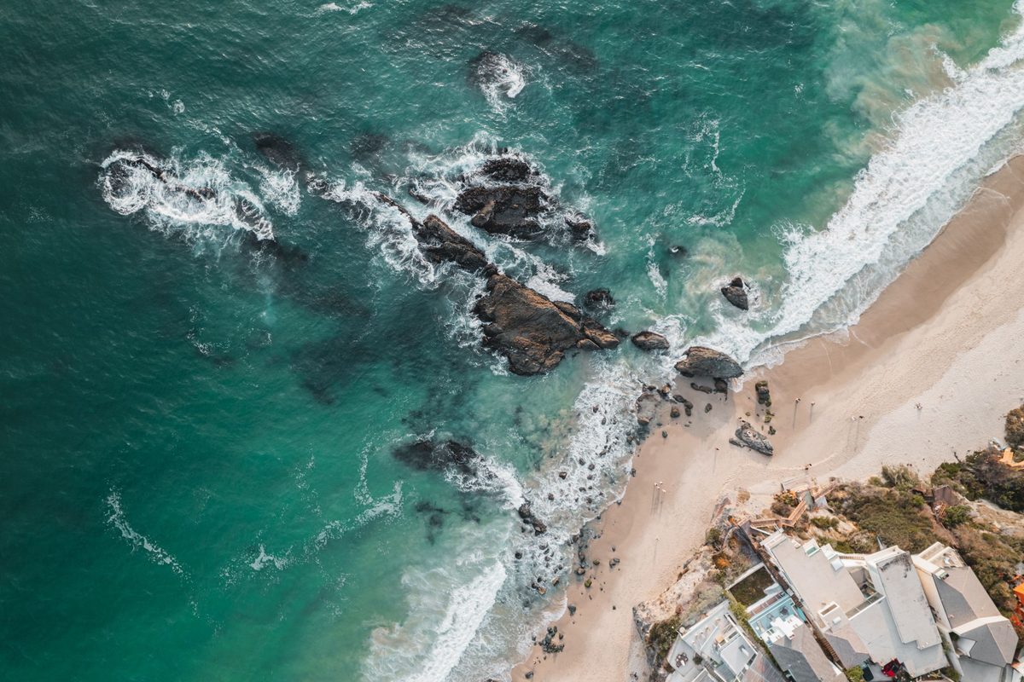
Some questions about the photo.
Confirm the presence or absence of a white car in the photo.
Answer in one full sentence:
No, I find no white car anywhere in the image.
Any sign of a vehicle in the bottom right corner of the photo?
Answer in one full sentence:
Yes, a vehicle shows up in the bottom right corner of the photo.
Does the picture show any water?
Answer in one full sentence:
Yes, there is water in the image.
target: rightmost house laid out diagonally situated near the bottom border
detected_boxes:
[906,542,1018,667]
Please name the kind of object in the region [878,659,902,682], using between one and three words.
car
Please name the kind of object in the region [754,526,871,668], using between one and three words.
house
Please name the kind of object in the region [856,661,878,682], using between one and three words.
car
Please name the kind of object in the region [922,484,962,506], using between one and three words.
shed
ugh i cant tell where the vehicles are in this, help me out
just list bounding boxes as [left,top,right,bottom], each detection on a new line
[878,659,902,682]
[856,661,878,682]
